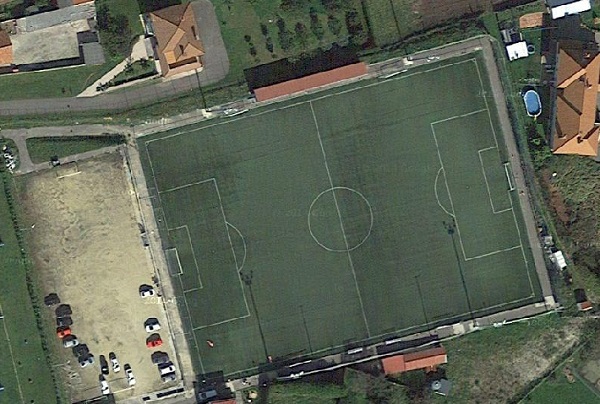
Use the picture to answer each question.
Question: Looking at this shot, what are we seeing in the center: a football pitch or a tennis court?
football pitch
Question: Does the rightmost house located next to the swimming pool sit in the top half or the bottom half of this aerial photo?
top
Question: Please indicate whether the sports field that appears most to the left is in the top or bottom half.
bottom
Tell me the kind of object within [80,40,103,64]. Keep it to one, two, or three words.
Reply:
building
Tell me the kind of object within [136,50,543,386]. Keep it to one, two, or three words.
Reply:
soccer field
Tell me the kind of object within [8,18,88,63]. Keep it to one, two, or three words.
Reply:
house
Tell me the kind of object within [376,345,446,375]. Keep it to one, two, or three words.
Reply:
building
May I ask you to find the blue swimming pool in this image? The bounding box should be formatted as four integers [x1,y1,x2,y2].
[522,90,539,118]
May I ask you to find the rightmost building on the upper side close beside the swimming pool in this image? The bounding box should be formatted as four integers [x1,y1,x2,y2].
[547,47,600,156]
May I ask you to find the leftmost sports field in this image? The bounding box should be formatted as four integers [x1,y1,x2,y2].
[0,178,56,404]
